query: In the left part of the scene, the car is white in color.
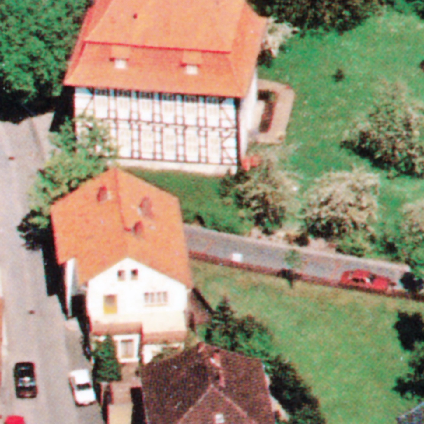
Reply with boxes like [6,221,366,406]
[68,367,96,403]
